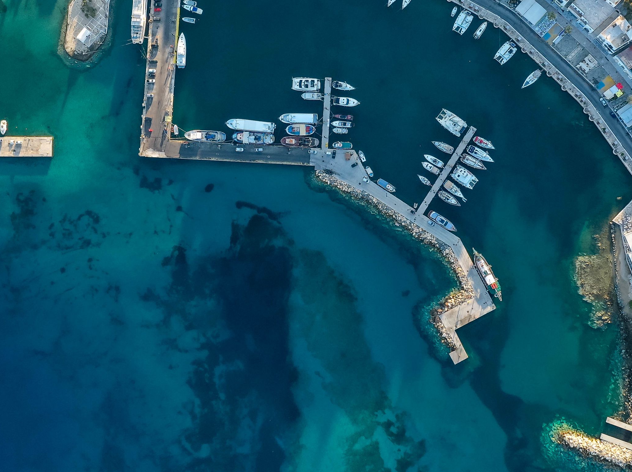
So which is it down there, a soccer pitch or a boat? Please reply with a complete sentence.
Looking from above, you can make out a boat.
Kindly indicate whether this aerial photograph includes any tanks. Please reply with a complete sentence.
No, the photo shows no tank.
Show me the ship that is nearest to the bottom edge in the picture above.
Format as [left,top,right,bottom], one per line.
[473,250,503,300]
